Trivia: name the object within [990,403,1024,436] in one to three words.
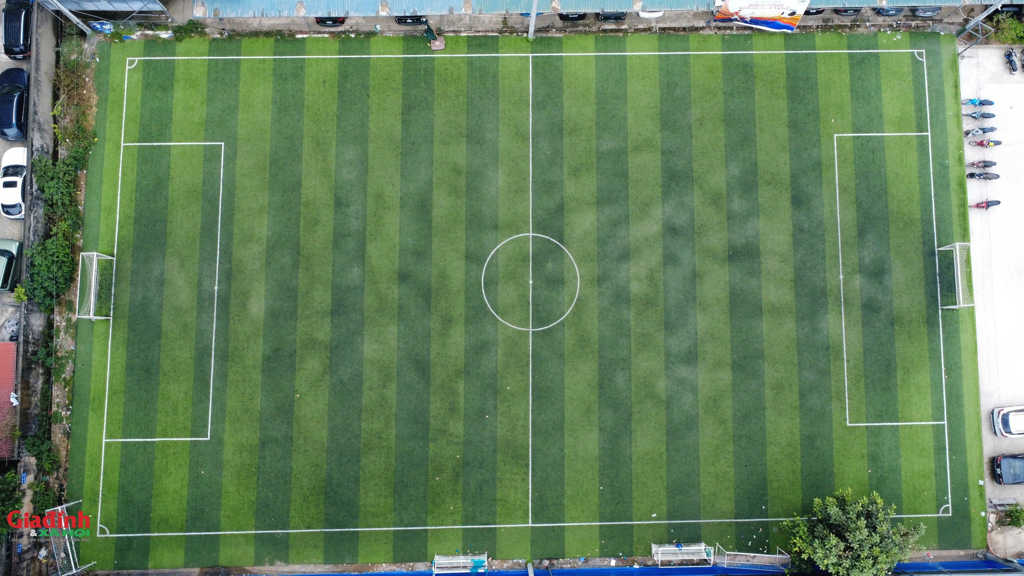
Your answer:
car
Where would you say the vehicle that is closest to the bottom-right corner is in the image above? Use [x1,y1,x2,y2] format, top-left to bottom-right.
[991,452,1024,484]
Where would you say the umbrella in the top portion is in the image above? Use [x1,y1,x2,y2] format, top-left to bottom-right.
[422,12,445,50]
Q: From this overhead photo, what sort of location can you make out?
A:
sports ground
